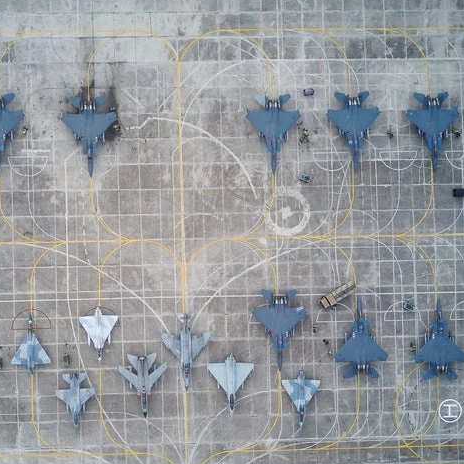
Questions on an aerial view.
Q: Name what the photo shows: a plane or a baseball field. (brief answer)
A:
plane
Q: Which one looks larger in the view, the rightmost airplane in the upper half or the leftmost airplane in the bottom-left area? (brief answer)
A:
the rightmost airplane in the upper half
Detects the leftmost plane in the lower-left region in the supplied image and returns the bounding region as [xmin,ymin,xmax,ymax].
[11,312,51,373]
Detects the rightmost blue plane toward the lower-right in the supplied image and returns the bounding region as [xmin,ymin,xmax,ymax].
[413,300,464,380]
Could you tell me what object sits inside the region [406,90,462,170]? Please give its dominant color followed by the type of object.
blue airplane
